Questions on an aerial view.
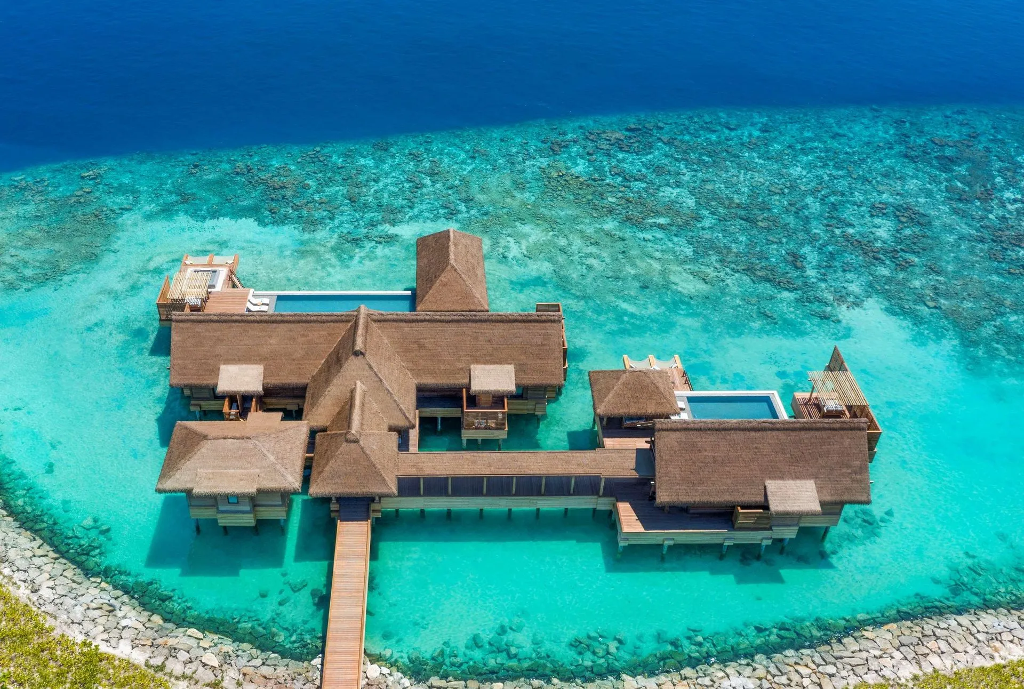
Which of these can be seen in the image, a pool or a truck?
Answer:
pool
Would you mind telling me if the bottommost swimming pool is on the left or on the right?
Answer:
right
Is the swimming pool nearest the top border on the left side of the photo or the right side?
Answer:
left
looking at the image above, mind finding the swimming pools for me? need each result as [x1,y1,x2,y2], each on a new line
[244,291,415,316]
[667,391,789,421]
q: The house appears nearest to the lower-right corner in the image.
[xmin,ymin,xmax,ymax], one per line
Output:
[638,418,876,563]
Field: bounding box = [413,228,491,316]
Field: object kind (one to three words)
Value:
shed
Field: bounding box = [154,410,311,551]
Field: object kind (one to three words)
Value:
building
